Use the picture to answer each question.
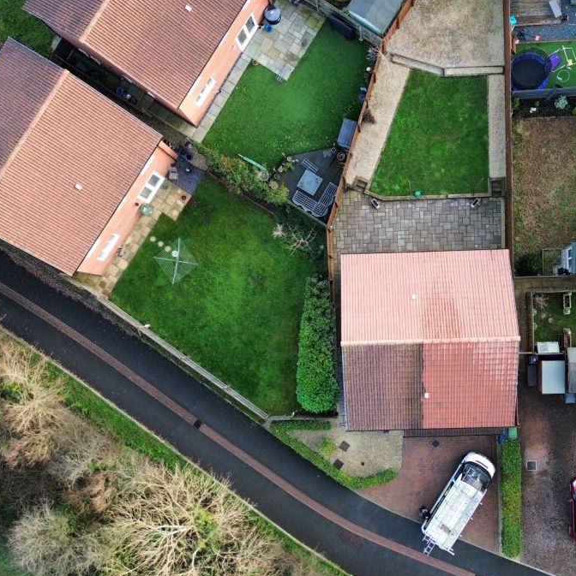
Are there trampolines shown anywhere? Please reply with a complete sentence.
Yes, this view includes a trampoline.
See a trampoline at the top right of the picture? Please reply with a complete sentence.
Yes, a trampoline appears at the top right of the picture.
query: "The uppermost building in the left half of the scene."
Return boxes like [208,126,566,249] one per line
[22,0,274,126]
